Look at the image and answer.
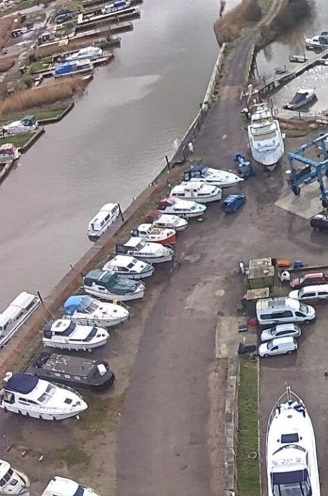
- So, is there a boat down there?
Yes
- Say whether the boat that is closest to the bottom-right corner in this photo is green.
No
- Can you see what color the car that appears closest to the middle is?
blue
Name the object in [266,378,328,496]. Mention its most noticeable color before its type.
white boat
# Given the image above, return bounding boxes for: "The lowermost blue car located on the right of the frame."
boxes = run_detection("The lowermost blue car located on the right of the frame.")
[222,193,249,213]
